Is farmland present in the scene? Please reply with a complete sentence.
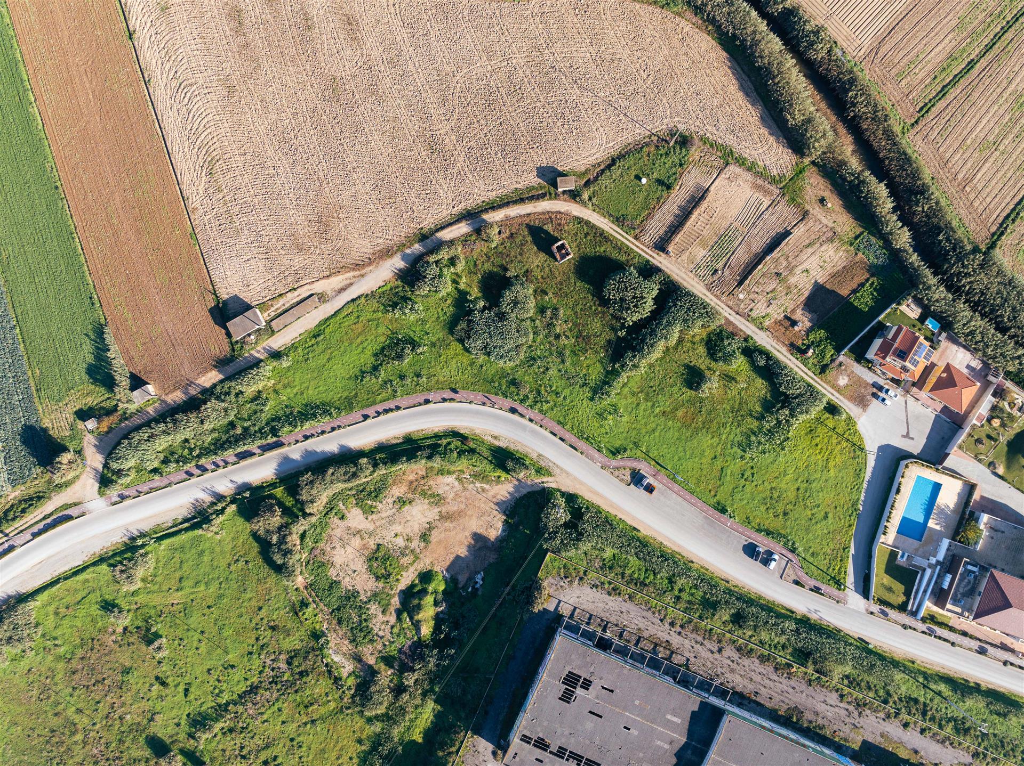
Yes, the picture does contain farmland.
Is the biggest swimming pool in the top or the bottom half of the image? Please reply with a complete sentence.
It is in the bottom half that the biggest swimming pool appears.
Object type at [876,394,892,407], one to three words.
vehicle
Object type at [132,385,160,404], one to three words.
shed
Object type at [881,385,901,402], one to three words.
vehicle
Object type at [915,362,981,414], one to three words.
house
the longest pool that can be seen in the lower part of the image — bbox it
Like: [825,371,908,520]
[896,473,945,545]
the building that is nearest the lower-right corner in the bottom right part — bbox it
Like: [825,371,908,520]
[934,555,1024,639]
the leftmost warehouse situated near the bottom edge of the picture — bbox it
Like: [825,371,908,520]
[496,611,732,766]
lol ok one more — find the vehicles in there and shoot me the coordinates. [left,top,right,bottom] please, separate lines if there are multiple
[767,553,779,570]
[637,476,649,490]
[876,394,892,407]
[752,546,763,563]
[881,385,901,402]
[646,484,656,495]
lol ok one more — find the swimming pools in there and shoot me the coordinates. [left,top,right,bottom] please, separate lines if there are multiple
[925,316,943,332]
[896,473,945,545]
